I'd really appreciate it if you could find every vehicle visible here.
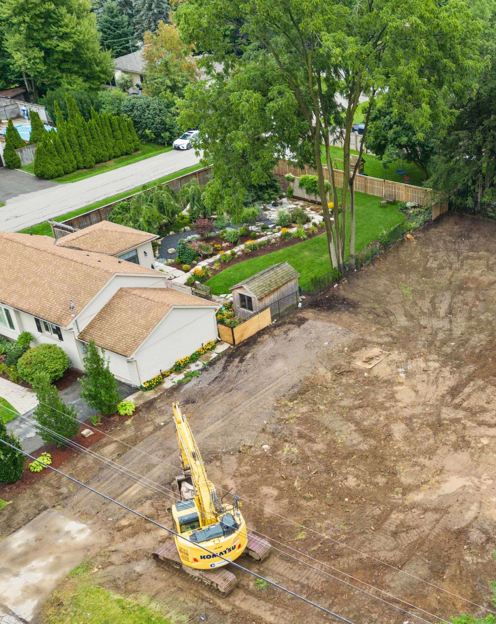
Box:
[154,397,270,595]
[171,133,207,150]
